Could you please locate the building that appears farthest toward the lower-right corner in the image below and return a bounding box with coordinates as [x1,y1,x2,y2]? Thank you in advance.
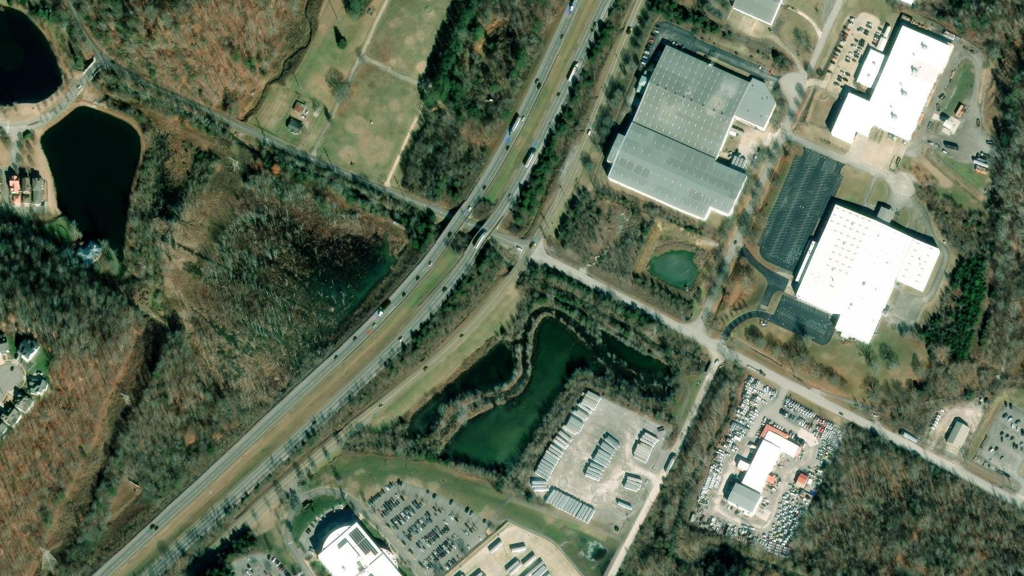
[947,421,969,449]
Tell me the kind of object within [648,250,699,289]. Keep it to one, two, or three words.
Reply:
pond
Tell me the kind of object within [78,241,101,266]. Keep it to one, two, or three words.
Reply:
house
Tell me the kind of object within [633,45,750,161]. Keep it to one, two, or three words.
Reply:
warehouse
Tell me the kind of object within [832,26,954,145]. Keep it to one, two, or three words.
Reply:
building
